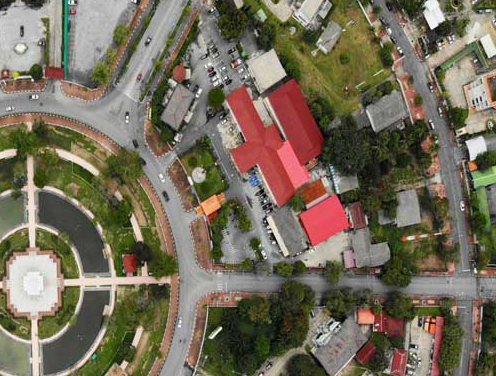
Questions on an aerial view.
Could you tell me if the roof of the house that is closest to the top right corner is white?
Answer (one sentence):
Yes, the roof of the house that is closest to the top right corner is white.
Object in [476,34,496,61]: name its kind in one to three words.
house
